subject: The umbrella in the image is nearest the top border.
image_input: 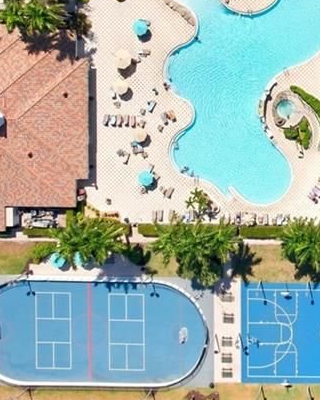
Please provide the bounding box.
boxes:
[133,21,148,35]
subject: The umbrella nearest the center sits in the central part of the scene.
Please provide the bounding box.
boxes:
[138,171,154,187]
